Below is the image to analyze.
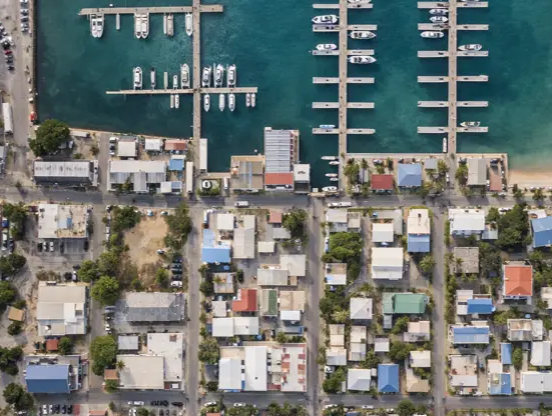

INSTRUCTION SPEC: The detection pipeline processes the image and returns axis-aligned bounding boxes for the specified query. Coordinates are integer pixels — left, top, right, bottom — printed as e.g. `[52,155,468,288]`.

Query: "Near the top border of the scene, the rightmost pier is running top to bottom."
[417,0,488,153]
